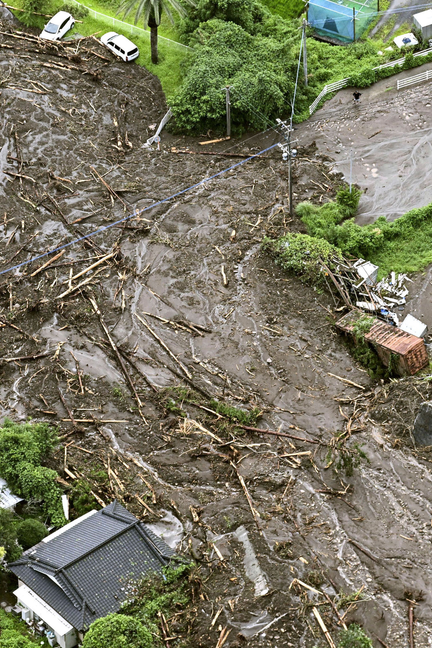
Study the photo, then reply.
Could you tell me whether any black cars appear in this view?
No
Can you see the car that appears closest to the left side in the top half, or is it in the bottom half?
top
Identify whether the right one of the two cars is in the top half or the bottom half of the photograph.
top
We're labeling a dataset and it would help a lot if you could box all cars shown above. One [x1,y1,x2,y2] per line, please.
[100,32,141,64]
[40,9,75,42]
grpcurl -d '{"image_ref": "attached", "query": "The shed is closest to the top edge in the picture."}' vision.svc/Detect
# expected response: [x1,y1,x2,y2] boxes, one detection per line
[411,9,432,40]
